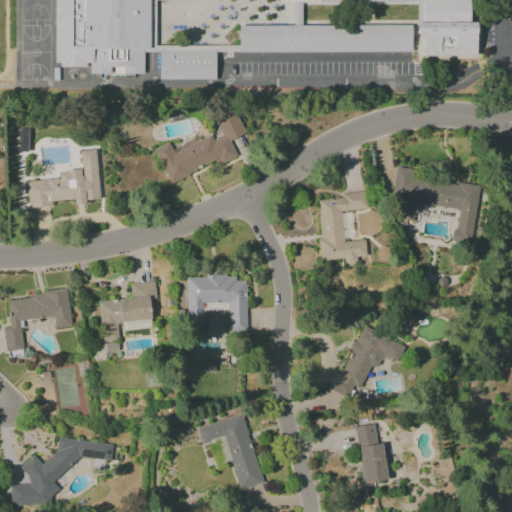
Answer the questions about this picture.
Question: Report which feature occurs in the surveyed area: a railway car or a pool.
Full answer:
It is a pool that can be seen here.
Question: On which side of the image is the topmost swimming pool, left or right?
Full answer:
You can find the topmost swimming pool on the left side of the picture.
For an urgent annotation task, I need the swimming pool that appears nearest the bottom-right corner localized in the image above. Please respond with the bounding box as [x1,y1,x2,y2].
[418,432,432,459]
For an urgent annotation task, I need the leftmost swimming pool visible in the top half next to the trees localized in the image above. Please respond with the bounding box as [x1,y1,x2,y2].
[42,146,72,166]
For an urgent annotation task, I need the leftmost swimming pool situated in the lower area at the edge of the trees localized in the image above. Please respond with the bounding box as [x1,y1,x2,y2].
[31,328,58,354]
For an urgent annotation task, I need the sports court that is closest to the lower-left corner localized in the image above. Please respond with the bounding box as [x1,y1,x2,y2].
[54,364,88,414]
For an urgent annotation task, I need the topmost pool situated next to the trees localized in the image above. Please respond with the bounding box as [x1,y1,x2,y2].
[164,119,192,138]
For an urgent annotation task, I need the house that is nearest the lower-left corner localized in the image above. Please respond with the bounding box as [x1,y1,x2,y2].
[12,438,115,503]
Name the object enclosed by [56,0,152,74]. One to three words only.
building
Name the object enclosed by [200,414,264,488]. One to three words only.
house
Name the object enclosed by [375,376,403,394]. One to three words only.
swimming pool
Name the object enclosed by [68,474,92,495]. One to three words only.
swimming pool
